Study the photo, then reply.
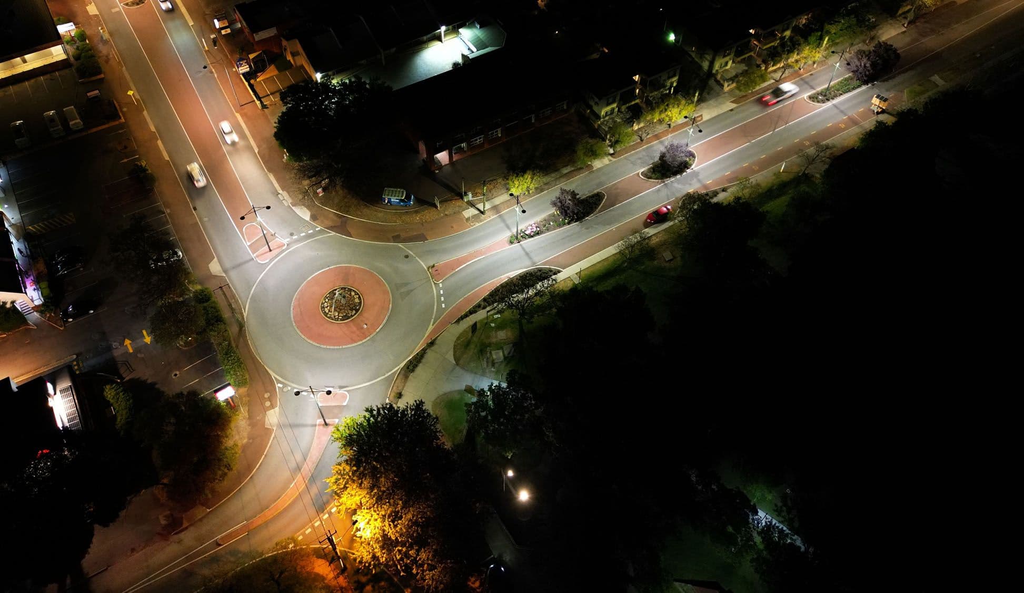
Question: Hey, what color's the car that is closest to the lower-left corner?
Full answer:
The color of the car that is closest to the lower-left corner is black.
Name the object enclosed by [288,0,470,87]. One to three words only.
building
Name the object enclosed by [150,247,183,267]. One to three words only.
car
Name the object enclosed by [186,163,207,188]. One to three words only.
car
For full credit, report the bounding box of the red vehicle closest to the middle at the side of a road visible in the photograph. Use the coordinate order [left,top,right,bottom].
[645,204,673,225]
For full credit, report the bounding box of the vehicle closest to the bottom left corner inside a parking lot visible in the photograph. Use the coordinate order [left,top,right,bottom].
[62,301,97,323]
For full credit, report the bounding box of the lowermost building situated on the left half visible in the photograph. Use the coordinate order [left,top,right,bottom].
[0,369,83,440]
